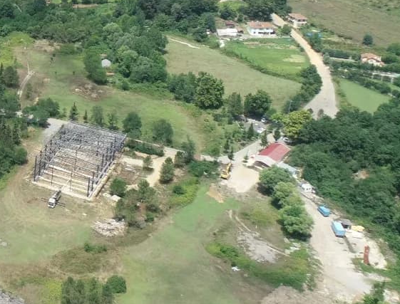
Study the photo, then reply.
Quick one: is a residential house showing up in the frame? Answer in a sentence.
Yes, a residential house can be made out from above.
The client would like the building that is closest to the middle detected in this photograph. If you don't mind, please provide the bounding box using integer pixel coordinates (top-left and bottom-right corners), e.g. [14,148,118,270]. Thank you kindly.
[244,141,283,169]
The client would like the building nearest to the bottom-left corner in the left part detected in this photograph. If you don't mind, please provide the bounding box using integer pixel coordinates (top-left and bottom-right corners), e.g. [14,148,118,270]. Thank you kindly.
[30,117,133,200]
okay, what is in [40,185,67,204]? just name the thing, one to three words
vehicle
